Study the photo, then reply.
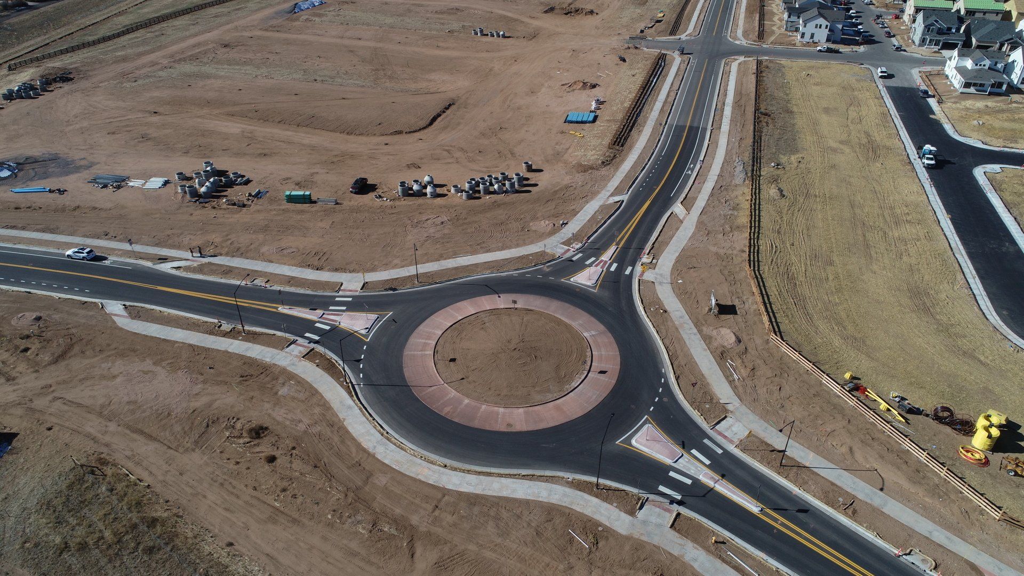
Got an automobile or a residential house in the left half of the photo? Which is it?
automobile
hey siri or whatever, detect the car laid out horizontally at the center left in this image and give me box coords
[64,245,97,261]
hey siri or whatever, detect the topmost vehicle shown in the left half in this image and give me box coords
[349,176,370,192]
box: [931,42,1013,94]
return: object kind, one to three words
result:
house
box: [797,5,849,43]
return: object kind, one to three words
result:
house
